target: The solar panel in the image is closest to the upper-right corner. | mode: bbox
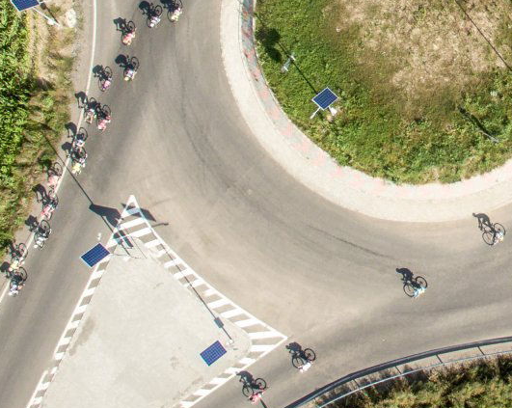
[313,86,342,110]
